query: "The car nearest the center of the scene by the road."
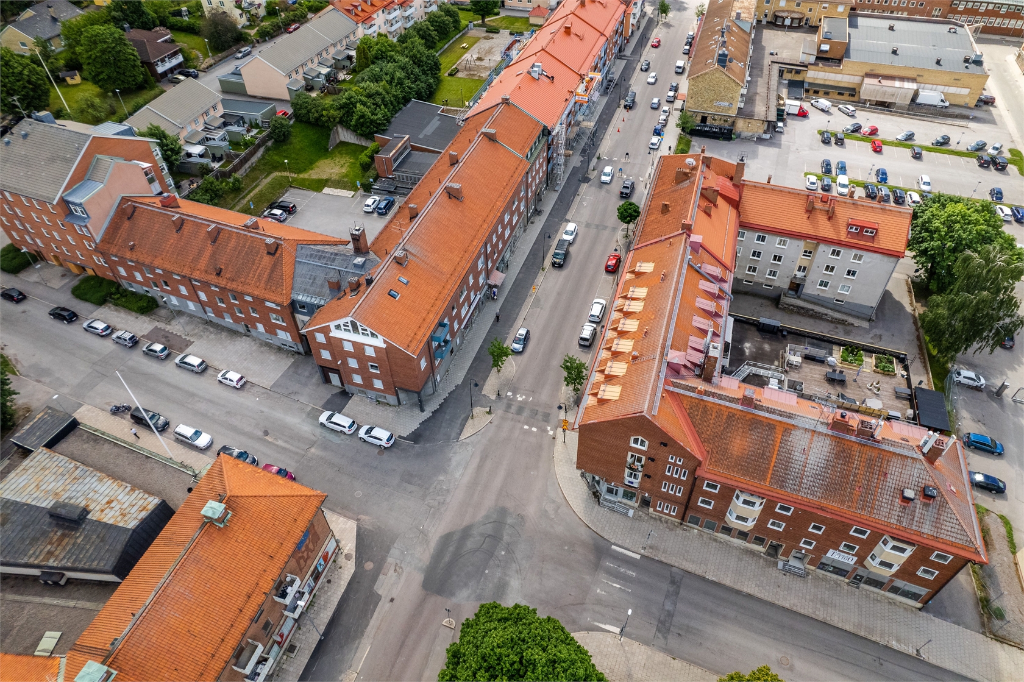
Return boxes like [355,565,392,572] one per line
[509,326,530,354]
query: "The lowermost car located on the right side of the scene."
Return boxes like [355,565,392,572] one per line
[968,467,1013,498]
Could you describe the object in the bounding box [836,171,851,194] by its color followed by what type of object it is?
white vehicle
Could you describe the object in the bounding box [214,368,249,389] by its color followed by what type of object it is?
white car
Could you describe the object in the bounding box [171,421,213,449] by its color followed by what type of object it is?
white car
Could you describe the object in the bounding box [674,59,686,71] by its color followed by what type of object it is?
white vehicle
